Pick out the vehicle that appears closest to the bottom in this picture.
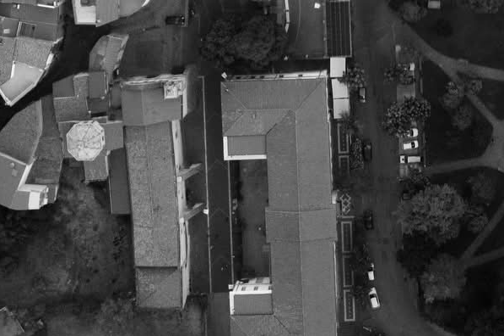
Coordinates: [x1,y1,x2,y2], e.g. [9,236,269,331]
[368,286,382,309]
